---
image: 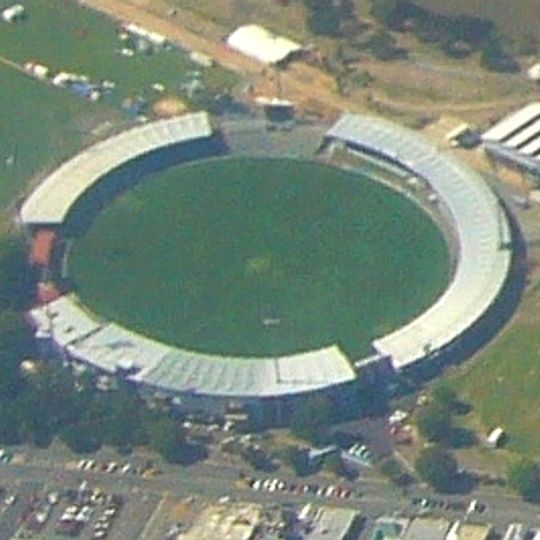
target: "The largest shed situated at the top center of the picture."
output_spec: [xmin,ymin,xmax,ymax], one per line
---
[227,26,301,67]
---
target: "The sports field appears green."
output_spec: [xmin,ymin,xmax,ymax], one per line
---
[54,152,456,377]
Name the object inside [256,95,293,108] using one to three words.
shed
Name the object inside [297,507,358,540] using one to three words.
building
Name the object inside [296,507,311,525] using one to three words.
vehicle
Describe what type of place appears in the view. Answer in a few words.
sports ground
